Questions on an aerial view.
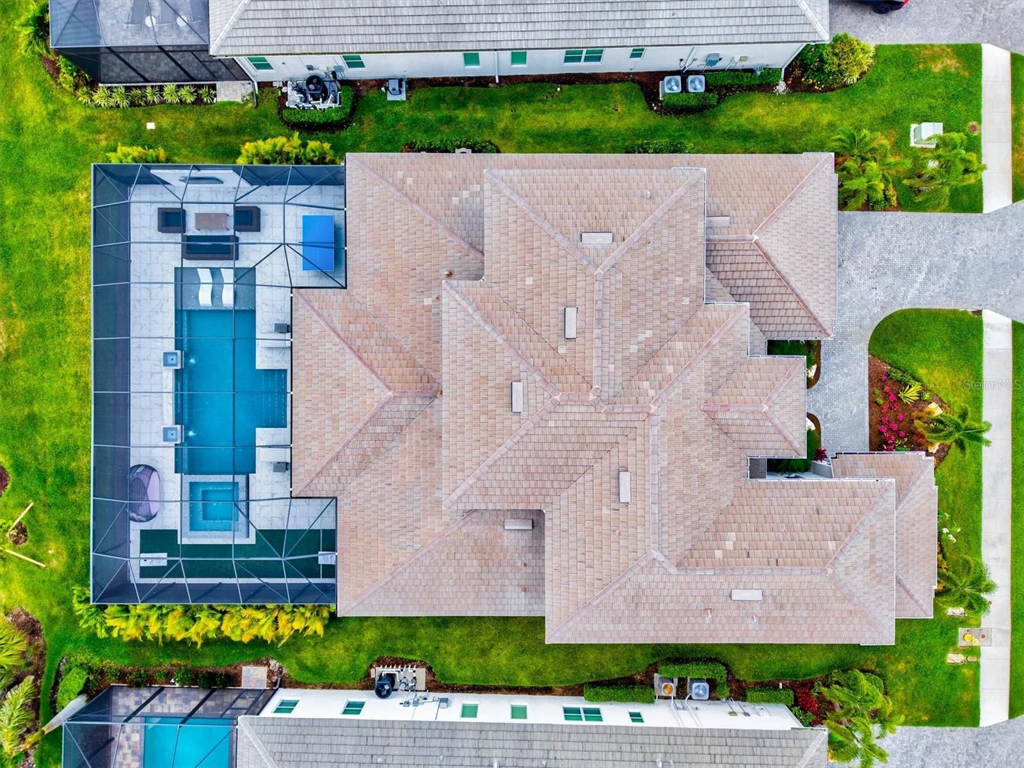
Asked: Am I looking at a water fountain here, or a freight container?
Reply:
water fountain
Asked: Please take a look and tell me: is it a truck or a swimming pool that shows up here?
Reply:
swimming pool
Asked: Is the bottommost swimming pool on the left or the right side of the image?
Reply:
left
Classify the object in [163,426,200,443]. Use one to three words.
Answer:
fountain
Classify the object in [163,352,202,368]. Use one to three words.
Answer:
fountain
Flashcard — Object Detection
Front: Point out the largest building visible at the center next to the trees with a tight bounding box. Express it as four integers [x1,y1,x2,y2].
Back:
[290,151,939,646]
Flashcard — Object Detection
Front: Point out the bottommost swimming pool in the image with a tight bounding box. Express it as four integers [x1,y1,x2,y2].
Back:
[144,717,234,768]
